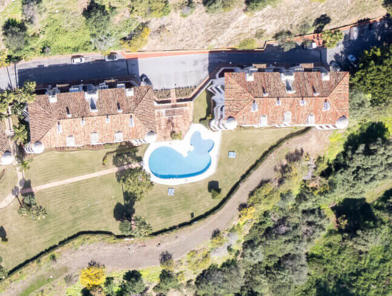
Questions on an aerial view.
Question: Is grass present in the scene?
Yes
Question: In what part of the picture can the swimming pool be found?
center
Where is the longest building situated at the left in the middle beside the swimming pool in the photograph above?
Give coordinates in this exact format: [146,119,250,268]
[15,76,159,159]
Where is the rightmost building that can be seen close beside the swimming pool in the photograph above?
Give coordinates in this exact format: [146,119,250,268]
[202,61,350,137]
